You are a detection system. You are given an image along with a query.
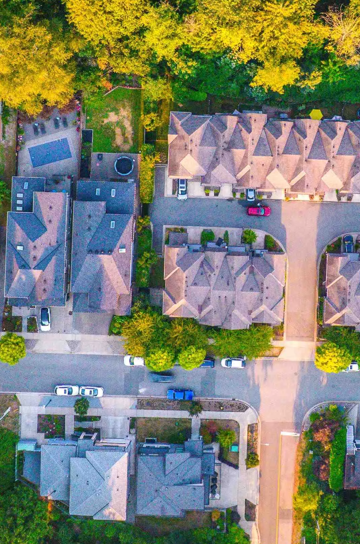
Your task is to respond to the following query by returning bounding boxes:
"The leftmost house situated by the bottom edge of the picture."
[23,433,131,522]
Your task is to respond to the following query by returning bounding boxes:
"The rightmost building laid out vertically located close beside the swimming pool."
[70,180,139,316]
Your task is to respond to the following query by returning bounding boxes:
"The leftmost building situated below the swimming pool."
[4,176,73,308]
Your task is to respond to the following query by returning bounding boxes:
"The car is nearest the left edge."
[39,307,51,330]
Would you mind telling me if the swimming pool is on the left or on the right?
left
